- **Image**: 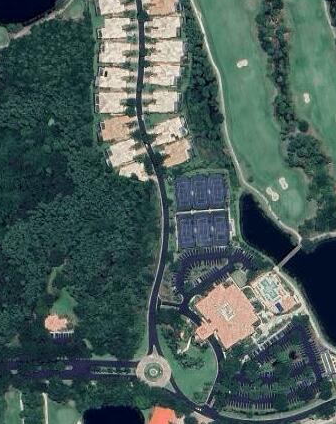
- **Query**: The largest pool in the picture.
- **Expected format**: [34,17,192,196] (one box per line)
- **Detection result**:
[251,272,302,316]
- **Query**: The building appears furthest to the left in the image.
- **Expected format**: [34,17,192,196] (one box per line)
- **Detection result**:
[43,314,67,333]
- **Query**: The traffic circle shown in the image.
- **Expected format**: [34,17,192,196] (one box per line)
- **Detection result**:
[130,346,175,394]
